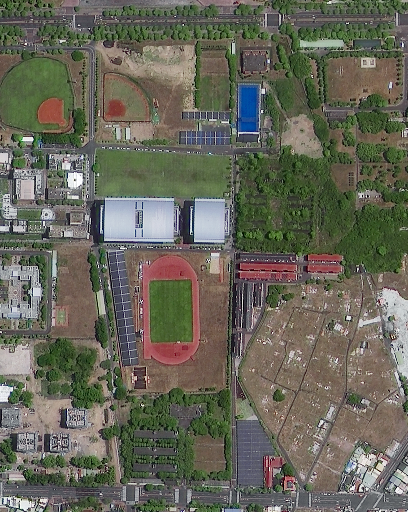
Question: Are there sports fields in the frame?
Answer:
Yes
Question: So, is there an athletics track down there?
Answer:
Yes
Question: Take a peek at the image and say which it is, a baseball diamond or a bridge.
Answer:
baseball diamond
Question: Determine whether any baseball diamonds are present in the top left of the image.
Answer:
Yes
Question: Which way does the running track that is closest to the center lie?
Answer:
up and down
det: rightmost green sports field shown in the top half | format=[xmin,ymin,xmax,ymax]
[96,150,231,198]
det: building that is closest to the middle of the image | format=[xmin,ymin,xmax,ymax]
[190,199,230,243]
